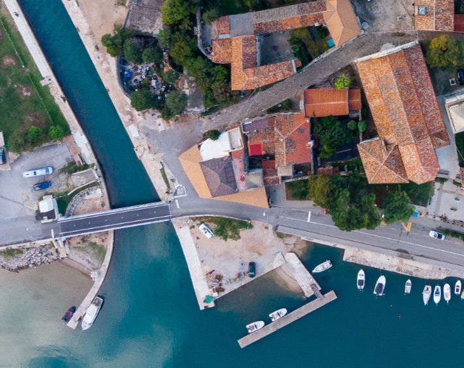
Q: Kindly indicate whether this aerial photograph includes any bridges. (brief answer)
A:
Yes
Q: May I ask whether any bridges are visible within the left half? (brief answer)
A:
Yes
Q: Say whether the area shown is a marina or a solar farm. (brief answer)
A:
marina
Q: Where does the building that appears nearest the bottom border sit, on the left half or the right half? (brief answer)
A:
left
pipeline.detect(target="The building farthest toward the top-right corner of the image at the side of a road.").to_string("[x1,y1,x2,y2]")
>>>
[415,0,464,32]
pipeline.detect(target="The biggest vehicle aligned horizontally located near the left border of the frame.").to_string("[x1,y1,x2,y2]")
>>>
[19,167,53,179]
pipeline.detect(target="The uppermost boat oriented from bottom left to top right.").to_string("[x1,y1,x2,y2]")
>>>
[313,259,333,272]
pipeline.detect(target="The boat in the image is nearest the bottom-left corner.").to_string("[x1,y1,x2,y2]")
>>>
[63,304,78,322]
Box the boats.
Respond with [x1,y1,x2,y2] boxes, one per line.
[405,280,411,295]
[246,321,264,334]
[313,259,333,272]
[435,285,441,304]
[268,308,287,322]
[423,284,432,305]
[63,304,78,322]
[357,269,364,291]
[84,296,104,329]
[455,281,461,296]
[373,275,385,297]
